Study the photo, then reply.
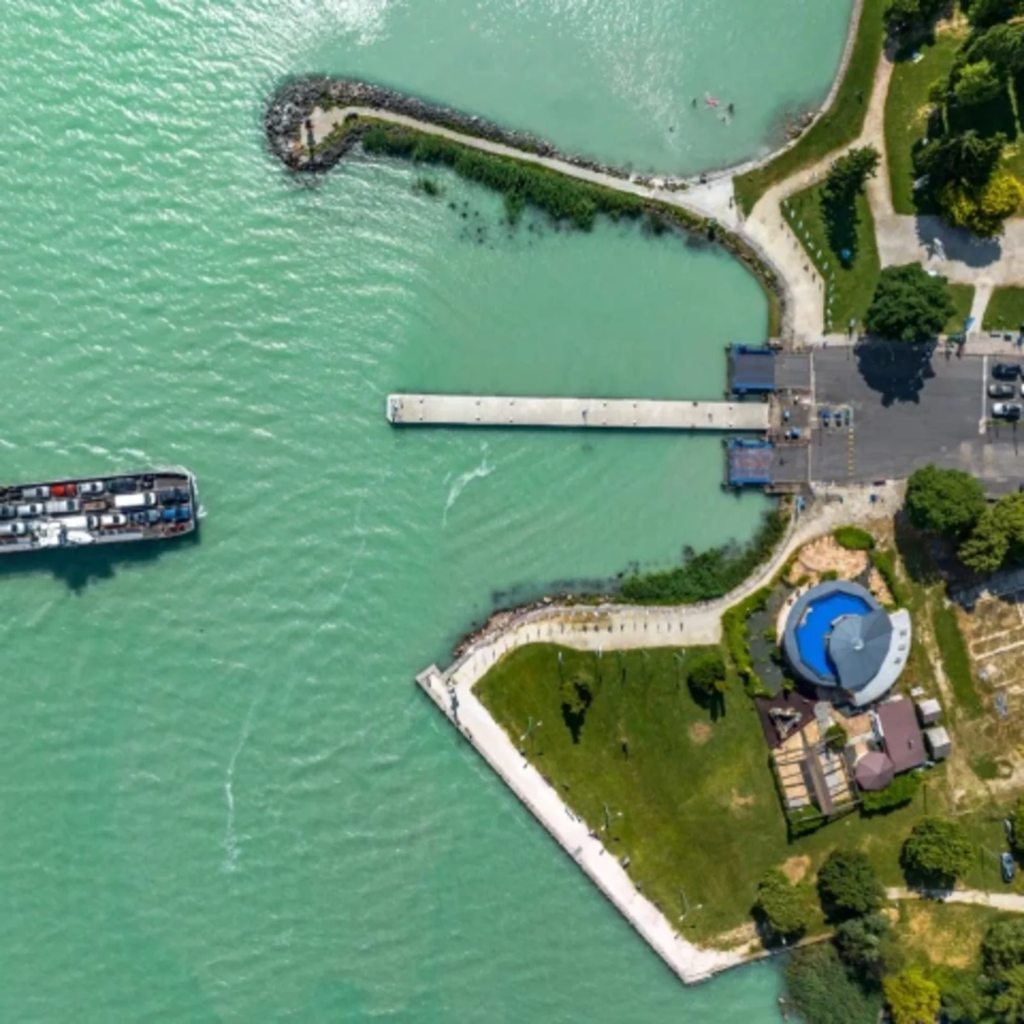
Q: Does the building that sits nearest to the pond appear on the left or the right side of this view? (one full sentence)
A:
The building that sits nearest to the pond sits on the right side.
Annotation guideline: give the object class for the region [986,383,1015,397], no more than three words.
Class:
car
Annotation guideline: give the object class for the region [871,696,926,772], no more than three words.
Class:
house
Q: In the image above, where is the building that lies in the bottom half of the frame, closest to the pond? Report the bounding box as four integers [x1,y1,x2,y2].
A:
[780,580,911,703]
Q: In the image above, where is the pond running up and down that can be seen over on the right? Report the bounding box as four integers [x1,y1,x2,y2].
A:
[746,577,788,698]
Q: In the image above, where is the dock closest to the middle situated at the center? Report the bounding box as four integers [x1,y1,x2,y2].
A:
[387,396,771,430]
